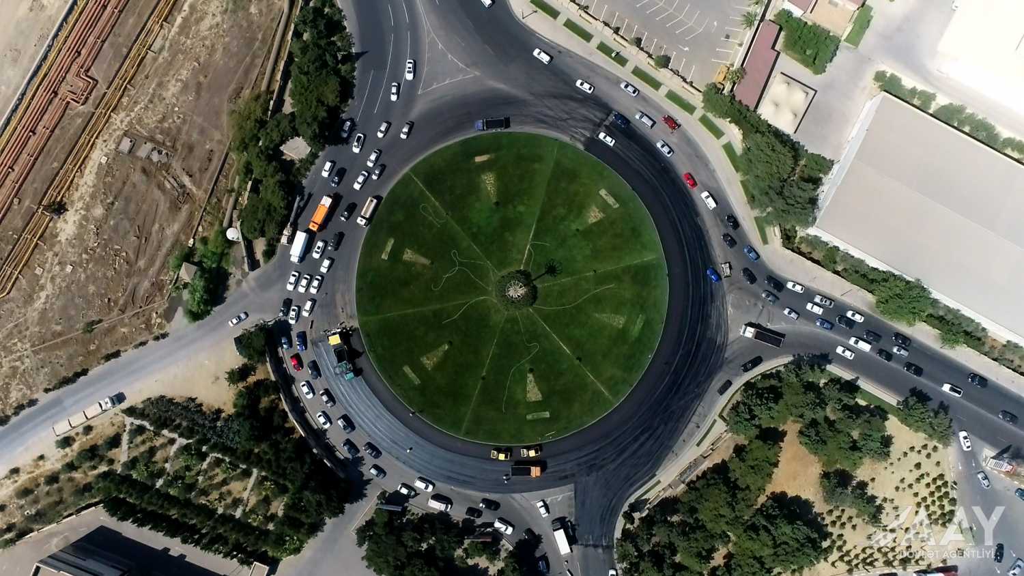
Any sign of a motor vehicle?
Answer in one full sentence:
Yes, there is a motor vehicle in the image.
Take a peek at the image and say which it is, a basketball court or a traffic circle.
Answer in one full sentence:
Of the two, only a traffic circle appears.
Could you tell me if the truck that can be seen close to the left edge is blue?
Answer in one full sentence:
No, from above the truck that can be seen close to the left edge looks white.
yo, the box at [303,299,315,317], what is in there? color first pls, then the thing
white vehicle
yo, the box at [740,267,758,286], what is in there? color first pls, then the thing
black car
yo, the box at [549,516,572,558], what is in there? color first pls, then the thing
white truck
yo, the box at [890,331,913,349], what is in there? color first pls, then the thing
black car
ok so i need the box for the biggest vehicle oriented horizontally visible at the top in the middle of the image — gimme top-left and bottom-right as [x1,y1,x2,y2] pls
[474,116,510,132]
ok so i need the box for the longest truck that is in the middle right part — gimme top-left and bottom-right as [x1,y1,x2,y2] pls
[737,323,785,348]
